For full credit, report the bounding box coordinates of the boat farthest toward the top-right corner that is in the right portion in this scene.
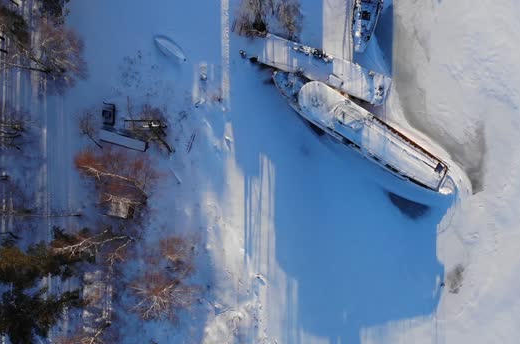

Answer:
[353,0,382,55]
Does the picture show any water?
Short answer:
Yes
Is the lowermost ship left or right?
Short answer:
right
